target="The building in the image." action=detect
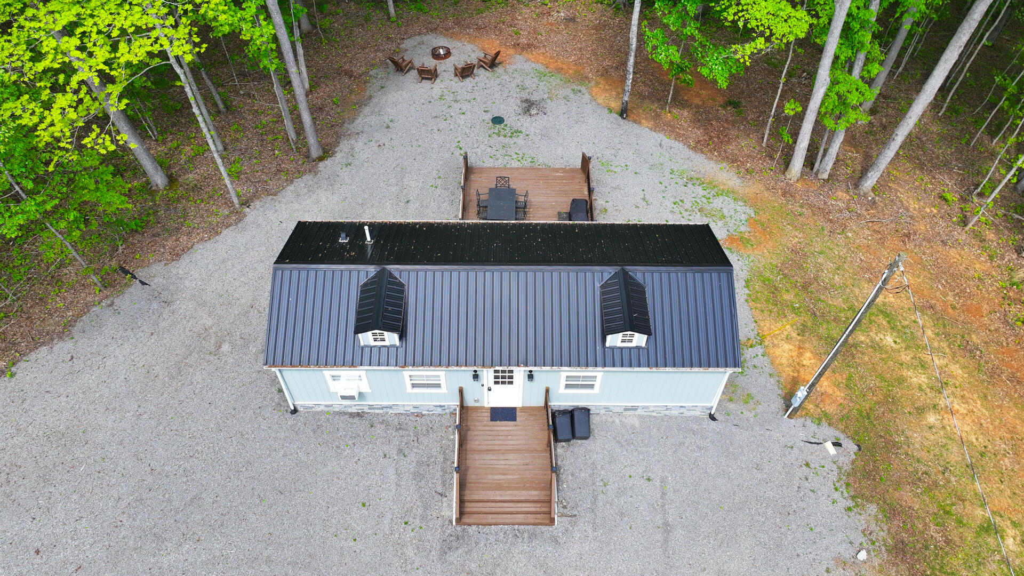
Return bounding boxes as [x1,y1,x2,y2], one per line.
[263,219,742,421]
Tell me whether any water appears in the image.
No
